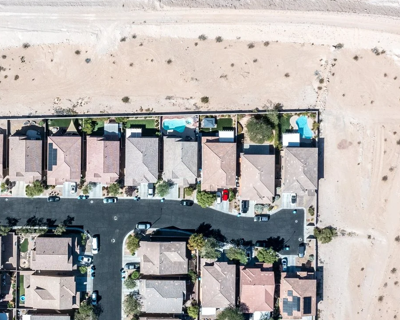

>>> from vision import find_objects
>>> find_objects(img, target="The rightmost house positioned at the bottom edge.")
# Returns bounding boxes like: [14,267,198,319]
[276,272,316,319]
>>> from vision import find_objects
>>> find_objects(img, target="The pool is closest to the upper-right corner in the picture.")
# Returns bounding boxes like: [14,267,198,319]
[295,115,314,140]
